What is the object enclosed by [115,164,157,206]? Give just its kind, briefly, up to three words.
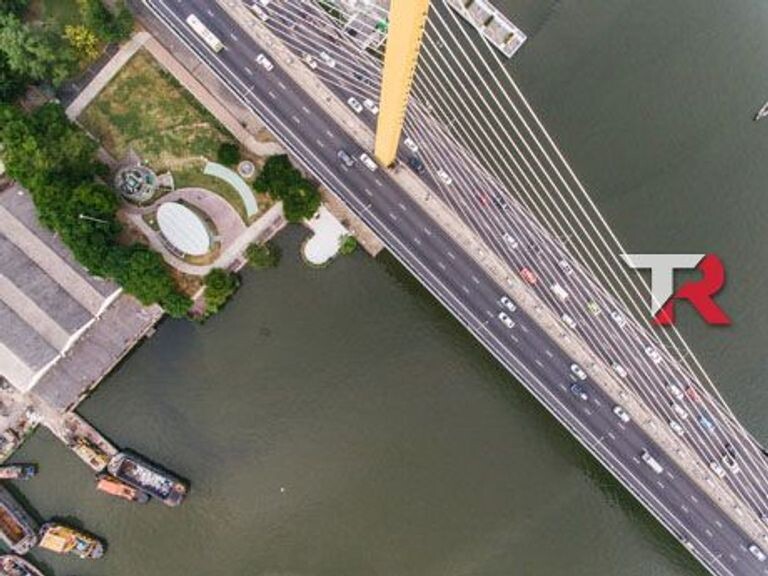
fountain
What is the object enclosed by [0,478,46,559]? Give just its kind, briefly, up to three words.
ship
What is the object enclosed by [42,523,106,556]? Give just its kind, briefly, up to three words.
boat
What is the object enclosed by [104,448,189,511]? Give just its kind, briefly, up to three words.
ship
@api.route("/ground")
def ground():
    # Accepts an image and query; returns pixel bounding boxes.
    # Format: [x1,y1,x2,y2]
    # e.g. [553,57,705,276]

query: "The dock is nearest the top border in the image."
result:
[445,0,527,58]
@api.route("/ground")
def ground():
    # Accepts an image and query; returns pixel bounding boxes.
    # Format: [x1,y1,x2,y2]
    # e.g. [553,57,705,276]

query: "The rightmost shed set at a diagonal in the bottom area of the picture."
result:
[32,290,164,414]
